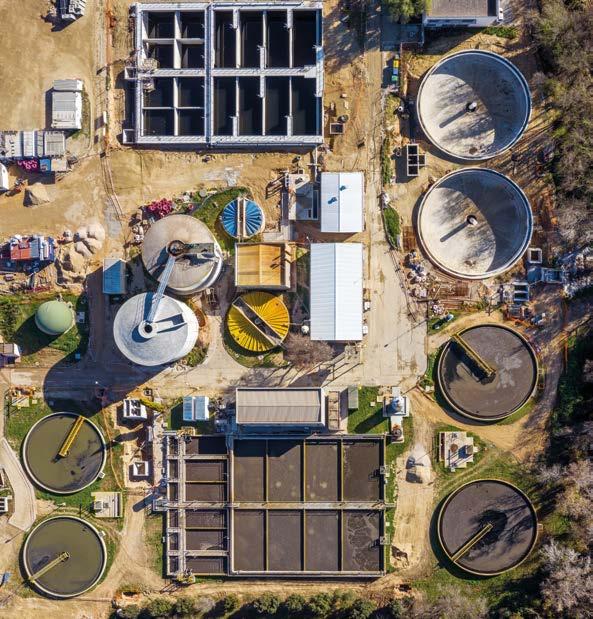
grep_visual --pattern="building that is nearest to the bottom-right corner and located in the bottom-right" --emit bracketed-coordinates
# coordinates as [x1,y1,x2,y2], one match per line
[438,431,478,472]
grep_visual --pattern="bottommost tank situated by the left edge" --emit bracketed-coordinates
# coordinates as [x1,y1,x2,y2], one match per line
[22,514,108,599]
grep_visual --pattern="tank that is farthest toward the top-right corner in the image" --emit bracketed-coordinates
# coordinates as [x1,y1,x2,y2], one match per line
[417,48,531,163]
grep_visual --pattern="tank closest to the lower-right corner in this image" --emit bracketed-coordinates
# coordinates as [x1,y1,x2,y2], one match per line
[436,476,543,578]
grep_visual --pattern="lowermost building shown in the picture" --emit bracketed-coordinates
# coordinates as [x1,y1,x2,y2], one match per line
[91,491,123,517]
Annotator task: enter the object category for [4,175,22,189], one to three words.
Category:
vehicle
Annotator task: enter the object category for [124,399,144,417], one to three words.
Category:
shed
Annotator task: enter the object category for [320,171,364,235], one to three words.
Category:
building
